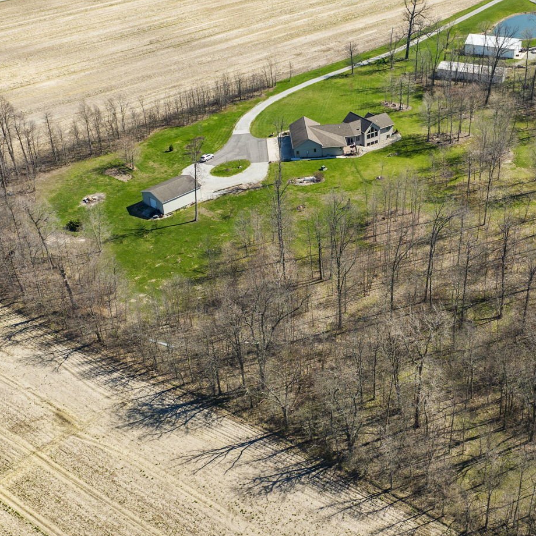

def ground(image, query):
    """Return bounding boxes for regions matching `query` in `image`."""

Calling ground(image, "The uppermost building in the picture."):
[464,35,519,58]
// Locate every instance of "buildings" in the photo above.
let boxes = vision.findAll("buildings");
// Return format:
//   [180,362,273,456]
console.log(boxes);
[464,35,519,58]
[139,172,204,213]
[435,61,505,83]
[289,107,396,157]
